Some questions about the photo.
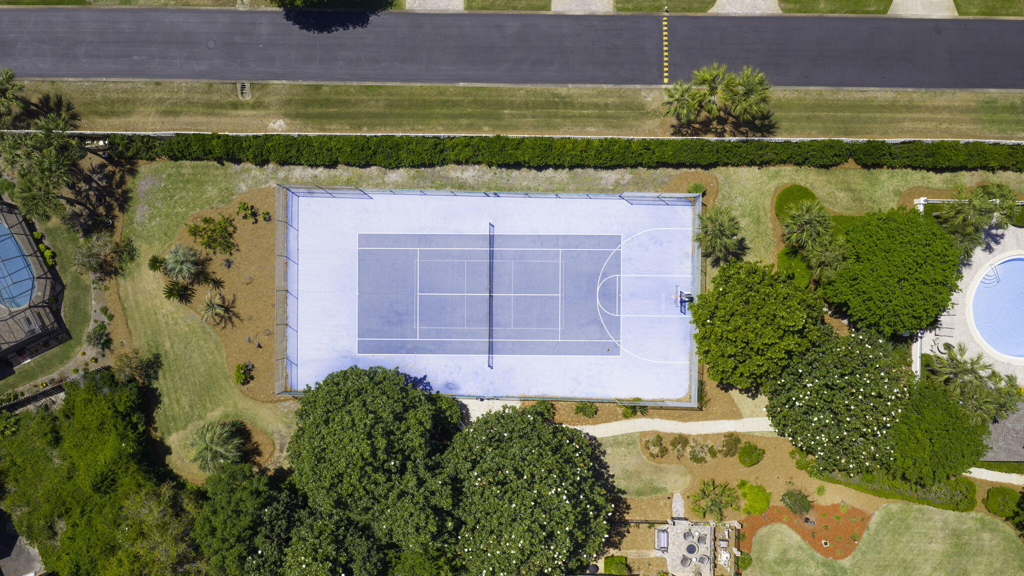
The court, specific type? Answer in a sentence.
Specifically, the court is a tennis court.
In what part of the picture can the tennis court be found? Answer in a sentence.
The tennis court is located in the center region of the scene.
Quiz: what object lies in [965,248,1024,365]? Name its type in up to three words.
swimming pool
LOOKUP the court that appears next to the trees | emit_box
[287,189,692,399]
